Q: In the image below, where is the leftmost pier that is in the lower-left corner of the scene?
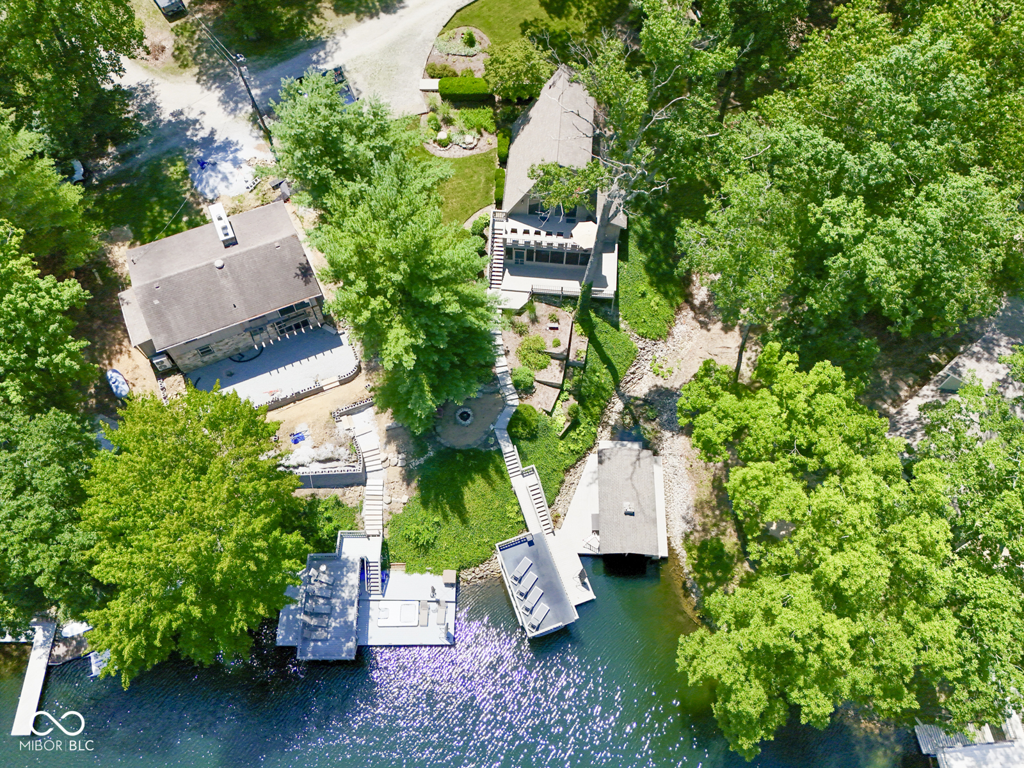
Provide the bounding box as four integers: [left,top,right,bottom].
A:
[0,624,54,736]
